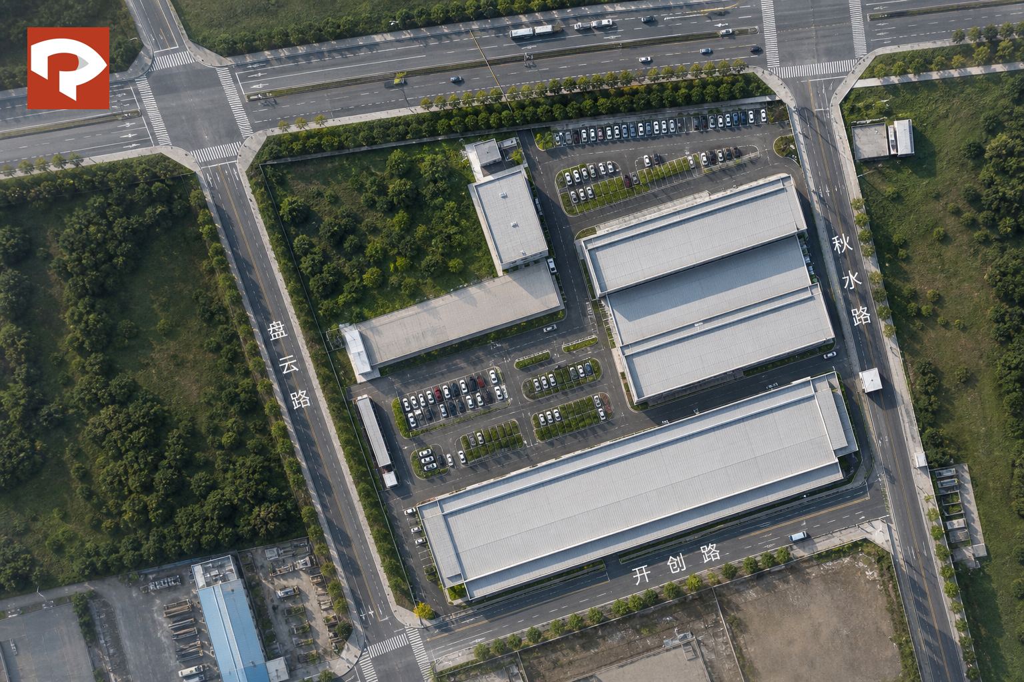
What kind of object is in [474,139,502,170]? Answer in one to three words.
building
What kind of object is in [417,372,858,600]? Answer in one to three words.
warehouse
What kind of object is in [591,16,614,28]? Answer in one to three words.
vehicle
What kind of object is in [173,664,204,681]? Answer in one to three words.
vehicle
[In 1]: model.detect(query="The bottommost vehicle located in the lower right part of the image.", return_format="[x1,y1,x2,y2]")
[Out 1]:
[788,530,809,542]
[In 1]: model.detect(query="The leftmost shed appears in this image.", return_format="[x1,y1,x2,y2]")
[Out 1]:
[198,577,272,682]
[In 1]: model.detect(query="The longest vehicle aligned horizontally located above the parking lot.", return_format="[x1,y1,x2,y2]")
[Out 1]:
[508,22,552,38]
